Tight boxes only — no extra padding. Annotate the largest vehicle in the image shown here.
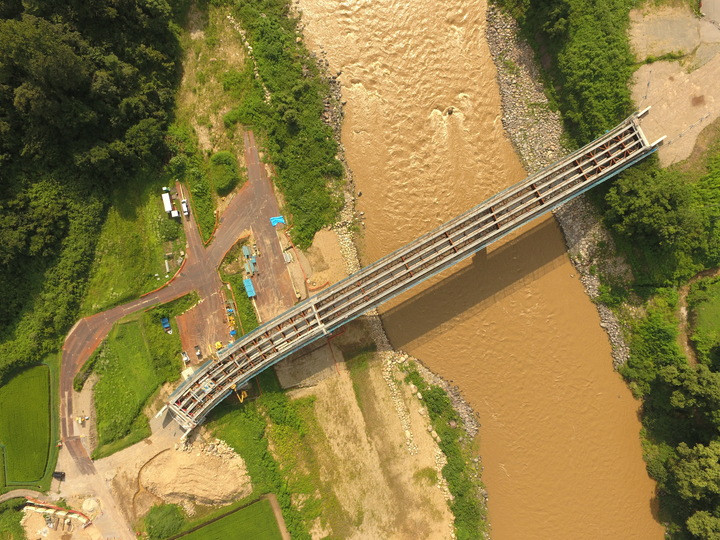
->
[158,185,171,213]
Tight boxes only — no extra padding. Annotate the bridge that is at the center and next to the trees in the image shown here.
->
[157,105,667,438]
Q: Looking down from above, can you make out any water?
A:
Yes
